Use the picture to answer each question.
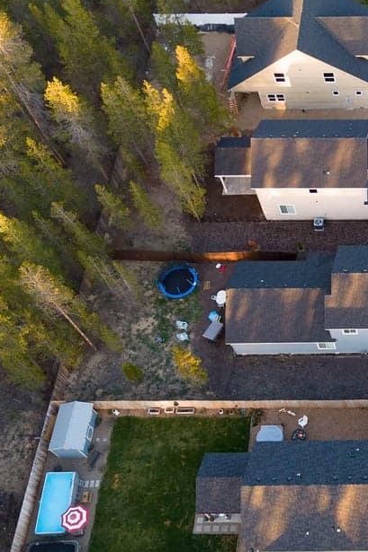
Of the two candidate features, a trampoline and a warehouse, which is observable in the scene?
trampoline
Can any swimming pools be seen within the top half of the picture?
No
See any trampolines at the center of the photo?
Yes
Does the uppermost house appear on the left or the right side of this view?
right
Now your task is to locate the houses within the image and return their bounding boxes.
[193,439,368,552]
[212,120,368,219]
[228,0,368,108]
[224,245,368,354]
